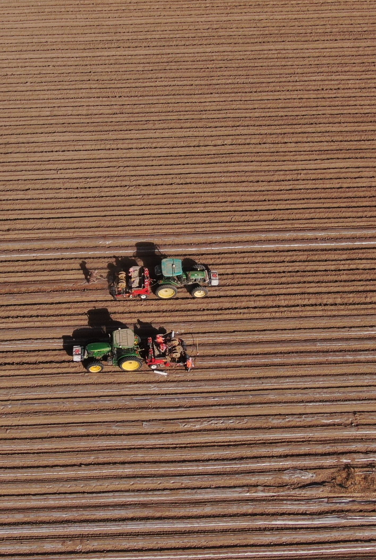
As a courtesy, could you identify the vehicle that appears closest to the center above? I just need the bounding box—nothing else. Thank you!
[149,257,220,300]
